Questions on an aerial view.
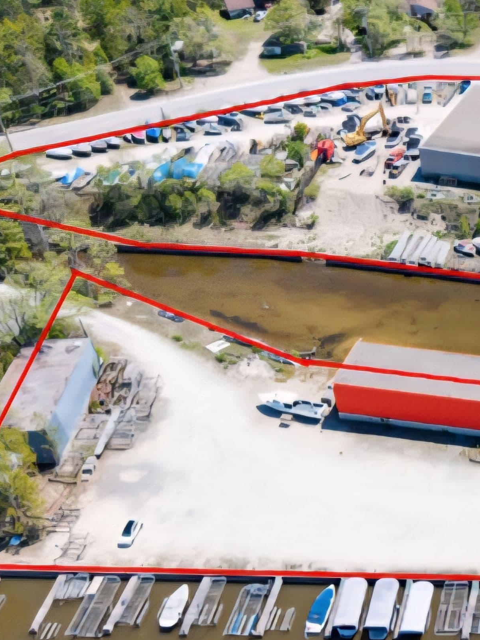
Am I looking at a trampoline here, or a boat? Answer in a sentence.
It is a boat that can be seen here.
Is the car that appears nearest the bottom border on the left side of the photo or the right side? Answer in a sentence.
The car that appears nearest the bottom border sits on the left side.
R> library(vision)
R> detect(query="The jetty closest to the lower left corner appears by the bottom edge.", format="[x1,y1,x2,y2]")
[29,577,68,634]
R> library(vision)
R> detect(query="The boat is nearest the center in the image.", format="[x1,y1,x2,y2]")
[206,340,231,353]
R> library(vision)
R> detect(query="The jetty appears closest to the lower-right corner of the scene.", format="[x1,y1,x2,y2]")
[460,585,479,640]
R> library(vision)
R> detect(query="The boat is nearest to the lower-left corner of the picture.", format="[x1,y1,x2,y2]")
[157,585,192,633]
